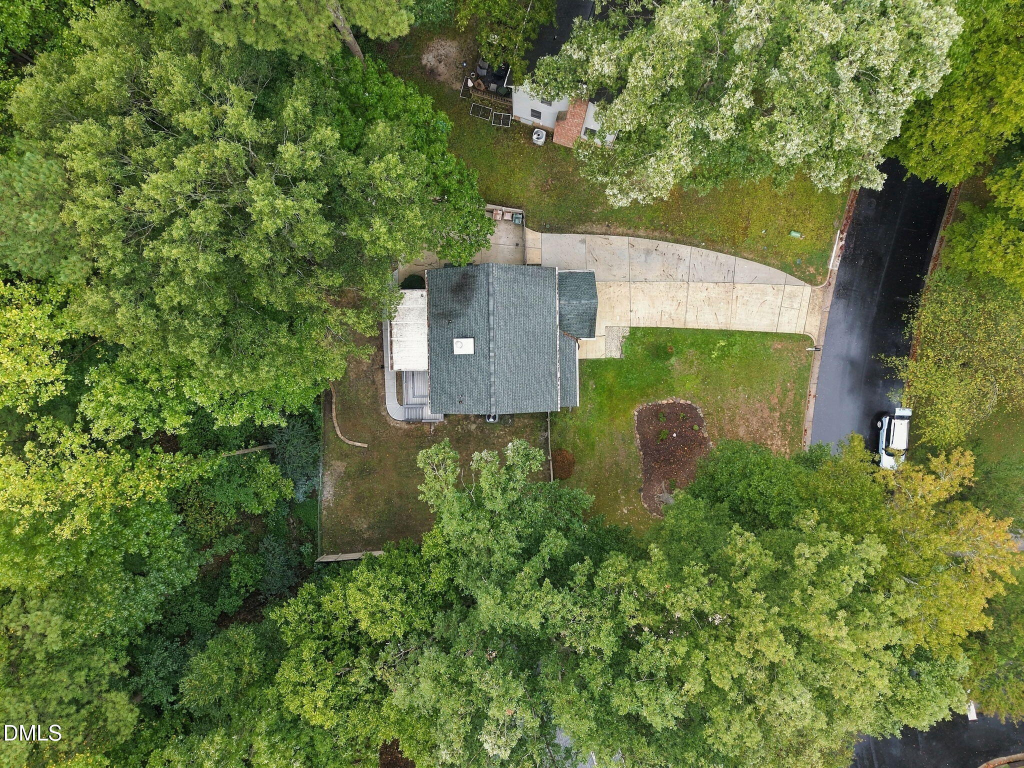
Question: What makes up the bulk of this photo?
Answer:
trees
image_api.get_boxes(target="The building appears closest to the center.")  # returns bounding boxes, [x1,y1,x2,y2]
[387,263,596,414]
